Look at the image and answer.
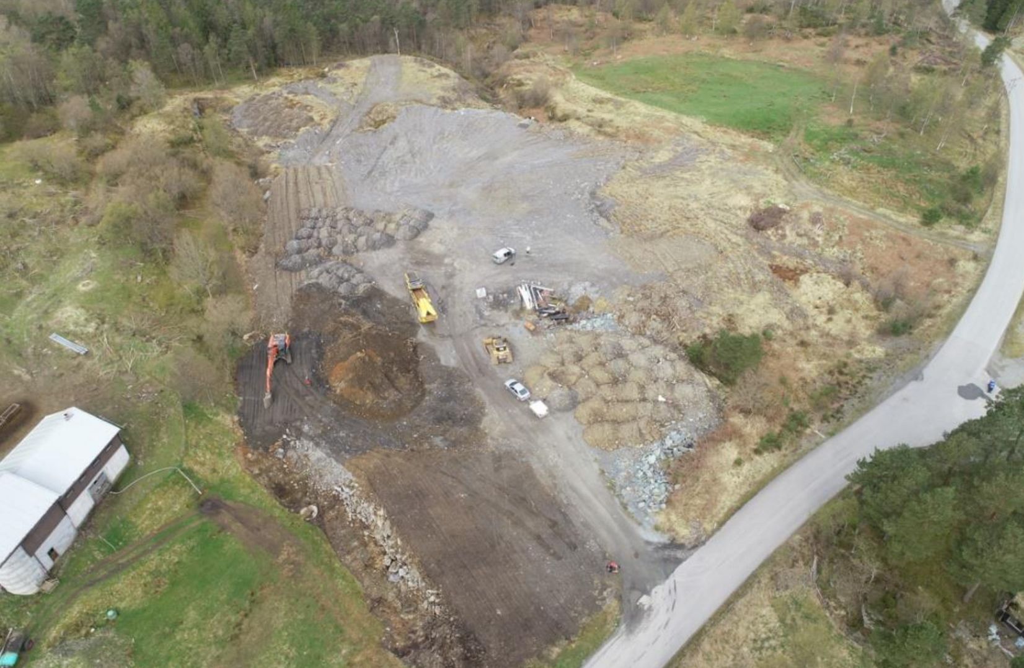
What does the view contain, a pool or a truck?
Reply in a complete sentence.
Visible in the photo is a truck.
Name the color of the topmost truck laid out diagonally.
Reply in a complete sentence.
The topmost truck laid out diagonally looks yellow in the image.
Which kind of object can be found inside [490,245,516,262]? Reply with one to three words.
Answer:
vehicle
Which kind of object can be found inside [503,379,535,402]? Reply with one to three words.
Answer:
car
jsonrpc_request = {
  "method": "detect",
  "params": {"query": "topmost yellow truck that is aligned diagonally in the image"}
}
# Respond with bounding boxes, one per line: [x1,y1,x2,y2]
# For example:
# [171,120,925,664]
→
[403,274,440,321]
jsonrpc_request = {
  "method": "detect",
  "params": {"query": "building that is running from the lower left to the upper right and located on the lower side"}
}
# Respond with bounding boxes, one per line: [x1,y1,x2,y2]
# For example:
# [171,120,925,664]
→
[0,407,131,610]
